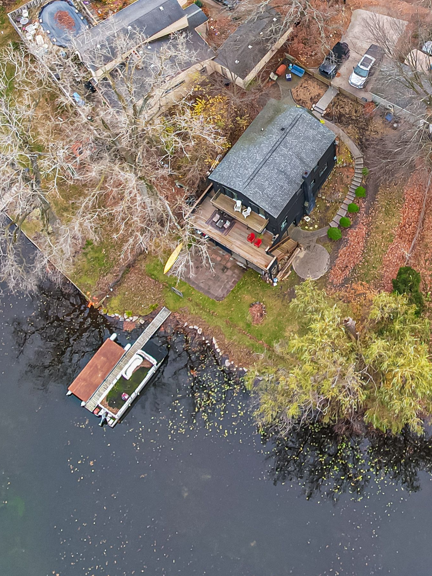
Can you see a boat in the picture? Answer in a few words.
Yes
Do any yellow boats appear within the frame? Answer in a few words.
Yes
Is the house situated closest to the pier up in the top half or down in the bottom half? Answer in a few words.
top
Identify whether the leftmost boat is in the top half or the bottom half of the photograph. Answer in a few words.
bottom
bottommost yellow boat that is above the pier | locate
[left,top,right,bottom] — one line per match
[164,242,182,274]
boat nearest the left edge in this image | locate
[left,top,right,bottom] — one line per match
[63,336,131,413]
